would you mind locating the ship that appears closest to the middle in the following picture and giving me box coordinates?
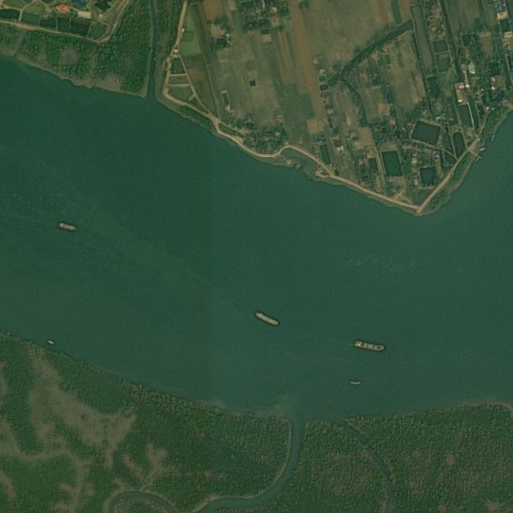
[255,313,279,325]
